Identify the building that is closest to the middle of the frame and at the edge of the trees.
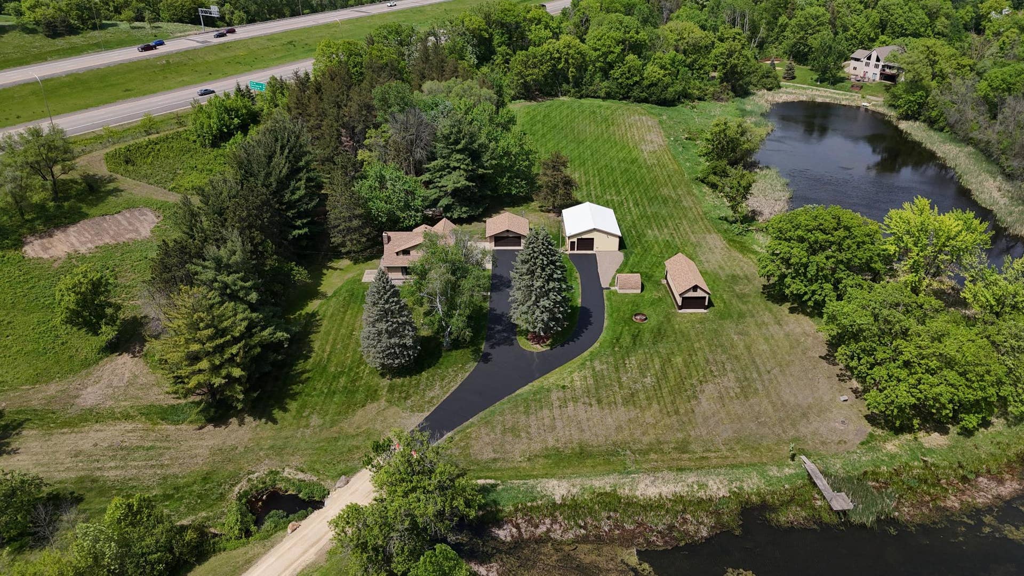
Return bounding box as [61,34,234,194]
[486,210,529,247]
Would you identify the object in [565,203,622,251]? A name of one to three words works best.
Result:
barn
